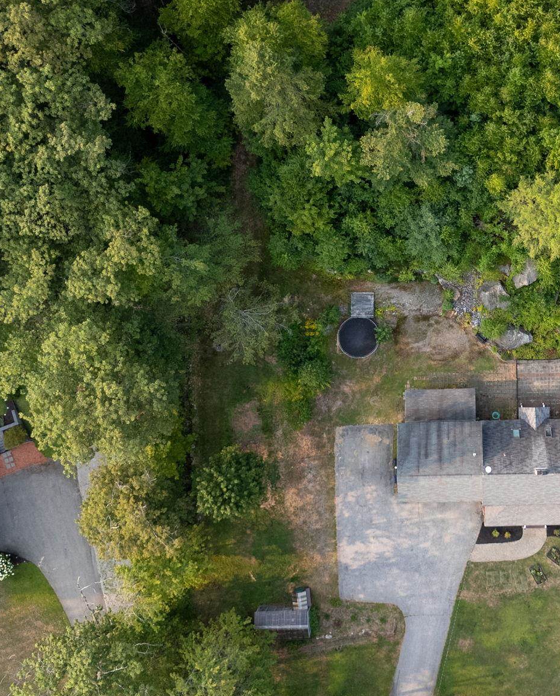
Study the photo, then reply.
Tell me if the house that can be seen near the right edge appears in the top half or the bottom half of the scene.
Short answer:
bottom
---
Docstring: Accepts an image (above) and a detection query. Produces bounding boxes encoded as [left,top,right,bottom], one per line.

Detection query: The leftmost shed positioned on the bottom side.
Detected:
[254,600,312,638]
